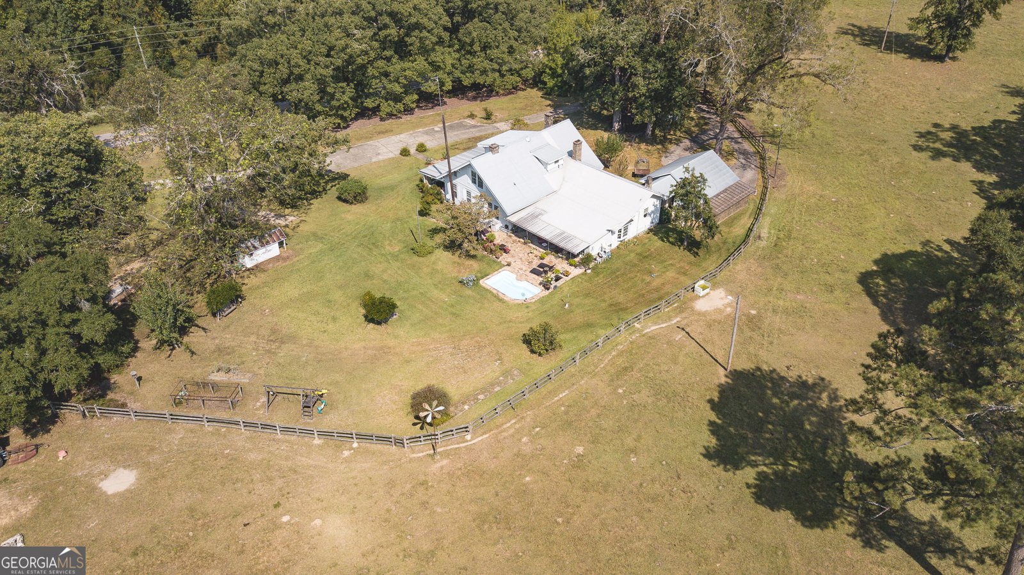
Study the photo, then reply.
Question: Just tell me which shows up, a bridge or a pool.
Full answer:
The one in the frame is a pool.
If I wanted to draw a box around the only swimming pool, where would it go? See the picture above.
[480,267,545,302]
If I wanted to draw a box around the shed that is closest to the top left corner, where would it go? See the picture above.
[232,228,291,267]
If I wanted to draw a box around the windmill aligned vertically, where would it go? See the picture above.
[420,400,447,457]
